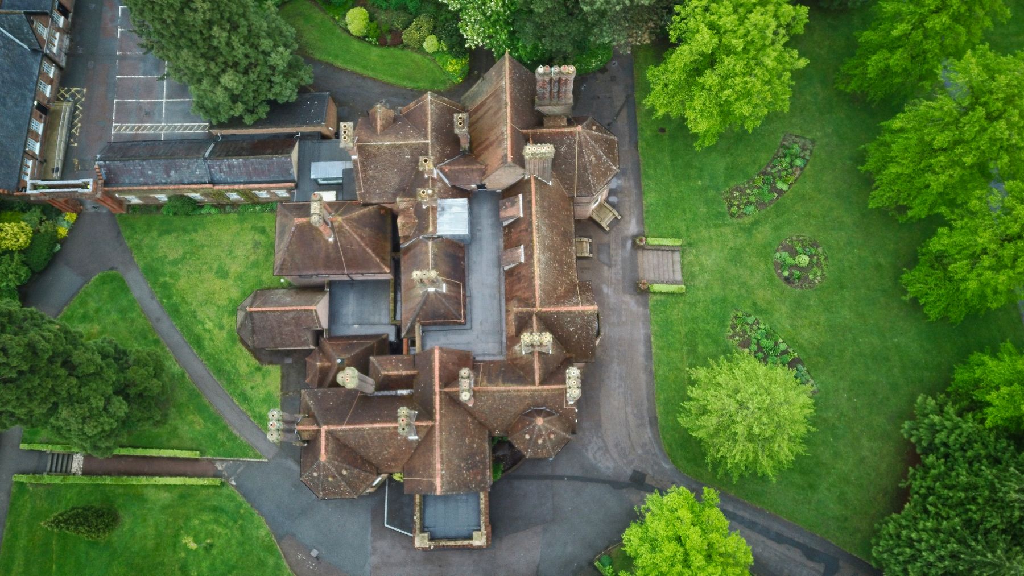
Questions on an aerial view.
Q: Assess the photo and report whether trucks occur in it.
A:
No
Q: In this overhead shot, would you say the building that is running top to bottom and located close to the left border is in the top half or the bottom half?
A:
top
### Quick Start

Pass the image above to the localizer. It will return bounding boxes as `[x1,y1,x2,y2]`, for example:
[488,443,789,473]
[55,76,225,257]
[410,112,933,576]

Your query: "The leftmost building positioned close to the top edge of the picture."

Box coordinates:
[0,0,82,202]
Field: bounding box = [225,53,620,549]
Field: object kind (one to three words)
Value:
house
